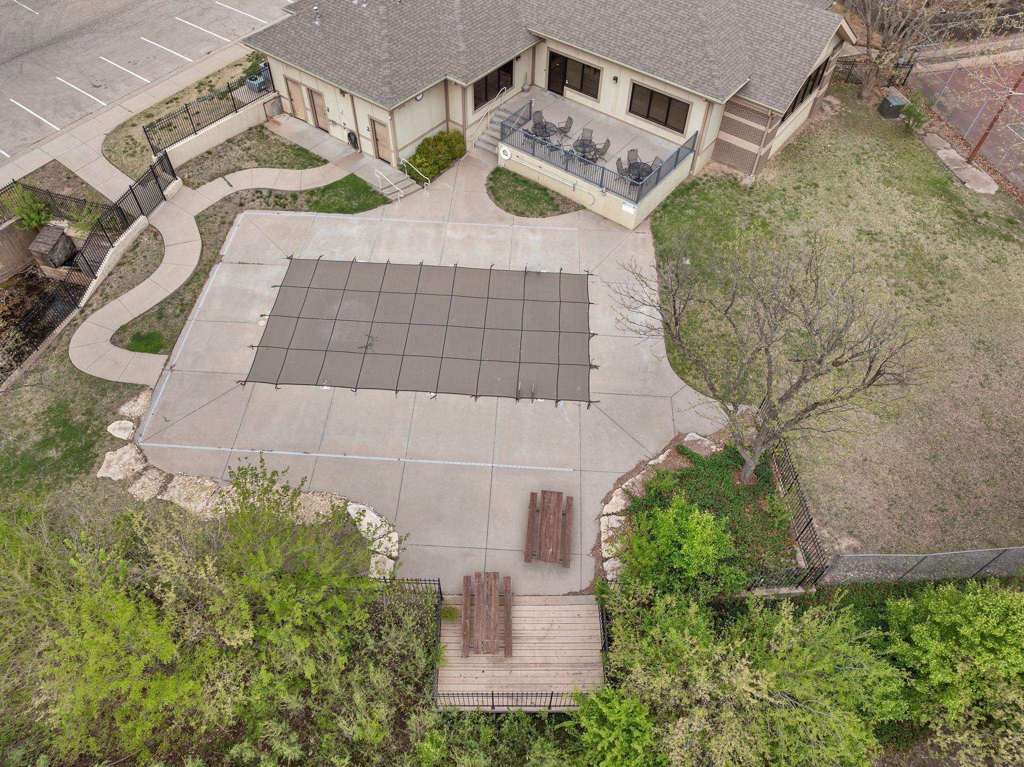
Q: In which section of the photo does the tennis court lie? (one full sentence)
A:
Look in the top right portion of the view to spot the tennis court.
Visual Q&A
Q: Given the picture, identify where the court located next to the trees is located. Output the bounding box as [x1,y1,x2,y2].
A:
[914,46,1024,207]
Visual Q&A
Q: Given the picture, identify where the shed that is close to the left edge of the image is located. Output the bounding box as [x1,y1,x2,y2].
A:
[18,228,70,269]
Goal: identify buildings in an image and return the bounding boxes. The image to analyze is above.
[247,0,875,179]
[18,228,70,269]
